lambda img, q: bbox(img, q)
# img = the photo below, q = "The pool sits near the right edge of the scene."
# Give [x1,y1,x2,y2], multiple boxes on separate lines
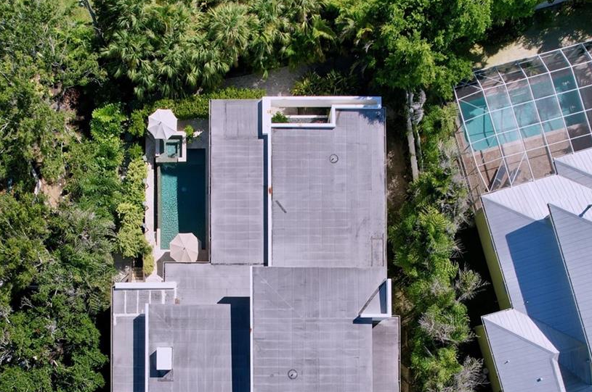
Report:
[457,65,590,156]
